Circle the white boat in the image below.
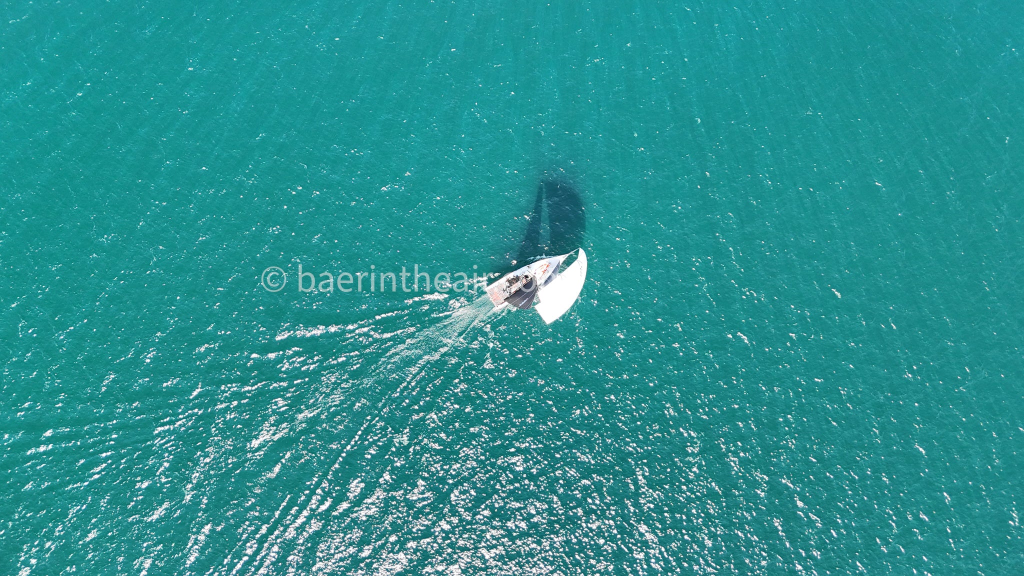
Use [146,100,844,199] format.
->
[485,248,586,324]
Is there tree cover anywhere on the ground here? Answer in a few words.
No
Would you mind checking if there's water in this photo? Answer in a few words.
Yes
